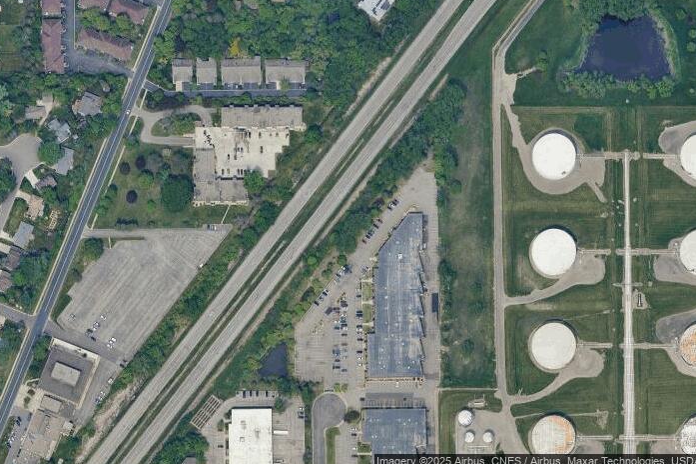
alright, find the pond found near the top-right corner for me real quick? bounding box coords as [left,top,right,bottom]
[582,15,672,81]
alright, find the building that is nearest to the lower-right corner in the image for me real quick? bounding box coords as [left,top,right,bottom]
[365,408,428,464]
